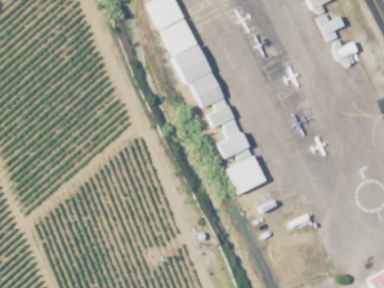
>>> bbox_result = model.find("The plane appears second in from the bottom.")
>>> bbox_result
[292,114,309,136]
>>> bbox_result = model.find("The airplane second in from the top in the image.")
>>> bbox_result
[253,36,270,56]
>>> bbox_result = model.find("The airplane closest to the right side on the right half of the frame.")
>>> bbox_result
[310,136,326,156]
